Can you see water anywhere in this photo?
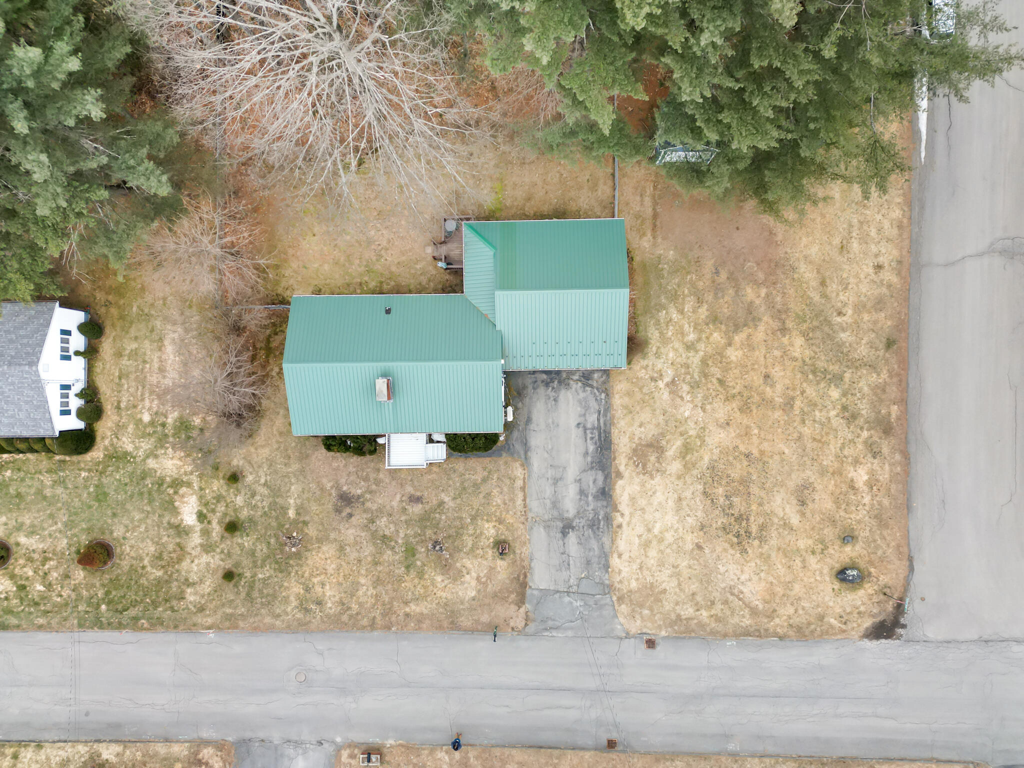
No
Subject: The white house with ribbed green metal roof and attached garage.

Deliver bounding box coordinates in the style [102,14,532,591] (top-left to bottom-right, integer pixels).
[283,216,629,437]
